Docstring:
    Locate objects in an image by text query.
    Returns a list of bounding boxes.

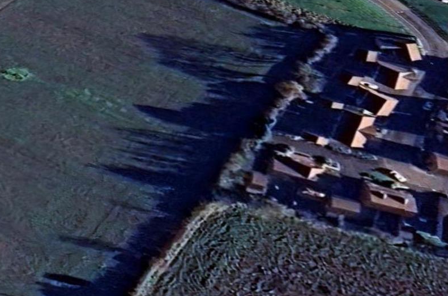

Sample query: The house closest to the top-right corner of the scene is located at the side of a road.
[390,42,428,71]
